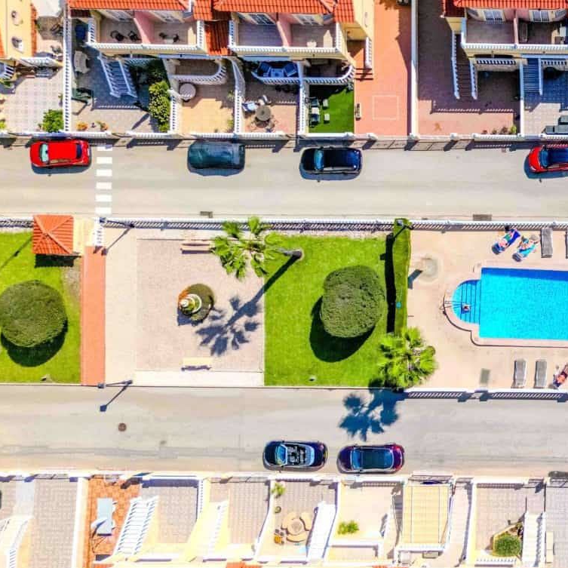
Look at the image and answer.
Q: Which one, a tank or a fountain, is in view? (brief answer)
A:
fountain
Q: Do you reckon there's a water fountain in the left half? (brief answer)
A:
Yes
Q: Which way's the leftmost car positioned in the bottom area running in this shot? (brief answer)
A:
horizontally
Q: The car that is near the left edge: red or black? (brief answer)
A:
red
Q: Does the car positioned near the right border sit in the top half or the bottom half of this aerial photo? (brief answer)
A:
top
